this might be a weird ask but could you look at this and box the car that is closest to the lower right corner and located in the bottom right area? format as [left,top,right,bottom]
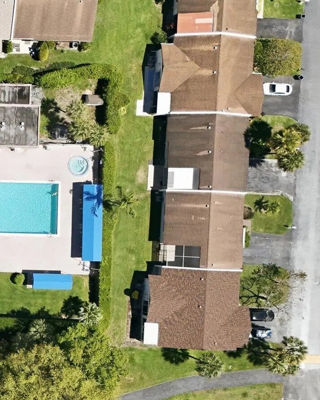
[249,325,273,339]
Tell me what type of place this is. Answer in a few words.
residential area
